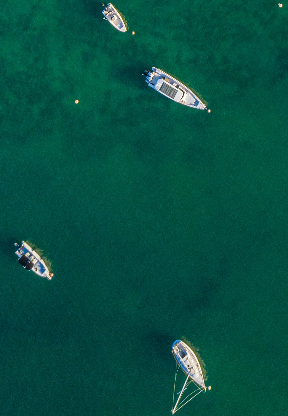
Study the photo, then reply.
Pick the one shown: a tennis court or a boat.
boat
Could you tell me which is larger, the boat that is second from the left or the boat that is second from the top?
the boat that is second from the top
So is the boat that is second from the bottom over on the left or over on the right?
left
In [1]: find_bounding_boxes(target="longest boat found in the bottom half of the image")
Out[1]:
[173,334,206,414]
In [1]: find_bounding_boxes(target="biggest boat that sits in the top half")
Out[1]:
[144,66,207,109]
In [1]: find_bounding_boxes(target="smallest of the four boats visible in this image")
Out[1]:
[102,2,127,32]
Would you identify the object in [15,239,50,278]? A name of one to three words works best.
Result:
boat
